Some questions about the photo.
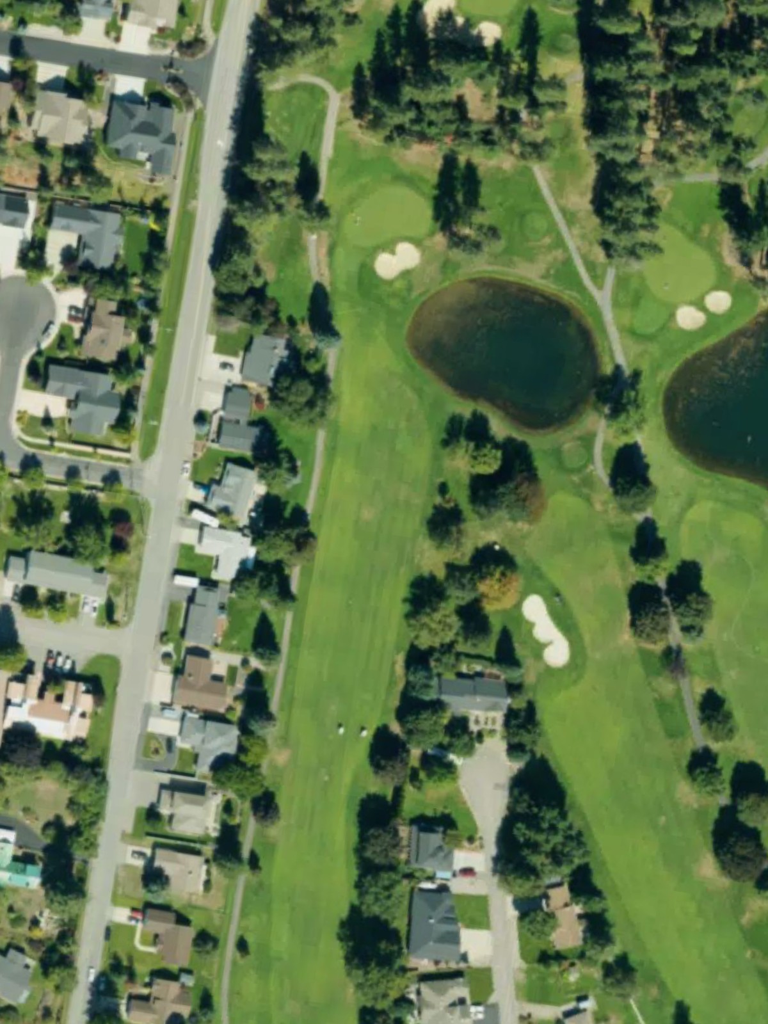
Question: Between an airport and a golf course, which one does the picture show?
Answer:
golf course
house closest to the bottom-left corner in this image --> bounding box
[0,945,36,1008]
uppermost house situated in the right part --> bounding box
[440,676,510,716]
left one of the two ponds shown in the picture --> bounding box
[410,278,600,429]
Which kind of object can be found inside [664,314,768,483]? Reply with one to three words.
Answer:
pond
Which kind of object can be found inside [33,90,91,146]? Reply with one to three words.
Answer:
house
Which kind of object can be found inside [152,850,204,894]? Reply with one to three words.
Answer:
house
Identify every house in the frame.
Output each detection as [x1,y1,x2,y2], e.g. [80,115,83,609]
[172,653,228,713]
[126,978,195,1024]
[143,907,196,969]
[0,945,36,1008]
[158,788,214,836]
[418,978,474,1024]
[218,385,259,451]
[44,364,120,438]
[206,460,260,525]
[545,883,585,951]
[79,0,114,20]
[124,0,178,27]
[0,829,43,891]
[185,584,219,646]
[410,888,464,962]
[5,552,108,594]
[410,823,453,872]
[152,850,204,894]
[0,82,15,135]
[33,90,91,146]
[197,524,249,585]
[243,333,284,384]
[179,715,240,773]
[106,100,177,176]
[0,674,94,744]
[50,200,125,270]
[81,296,126,364]
[440,676,510,716]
